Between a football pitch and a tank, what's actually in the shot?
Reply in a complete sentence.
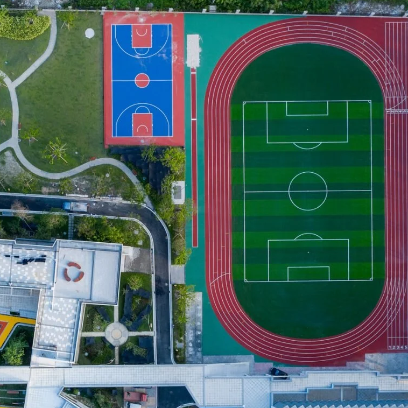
Of the two, only a football pitch appears.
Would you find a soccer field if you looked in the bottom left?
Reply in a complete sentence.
No, no soccer field is visible in the bottom left.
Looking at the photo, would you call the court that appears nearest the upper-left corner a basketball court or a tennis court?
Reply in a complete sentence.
Specifically, the court that appears nearest the upper-left corner is a basketball court.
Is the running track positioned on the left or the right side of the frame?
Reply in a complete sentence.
It is on the right.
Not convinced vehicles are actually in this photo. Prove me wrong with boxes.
[126,403,142,408]
[270,366,290,379]
[64,200,88,211]
[124,392,149,404]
